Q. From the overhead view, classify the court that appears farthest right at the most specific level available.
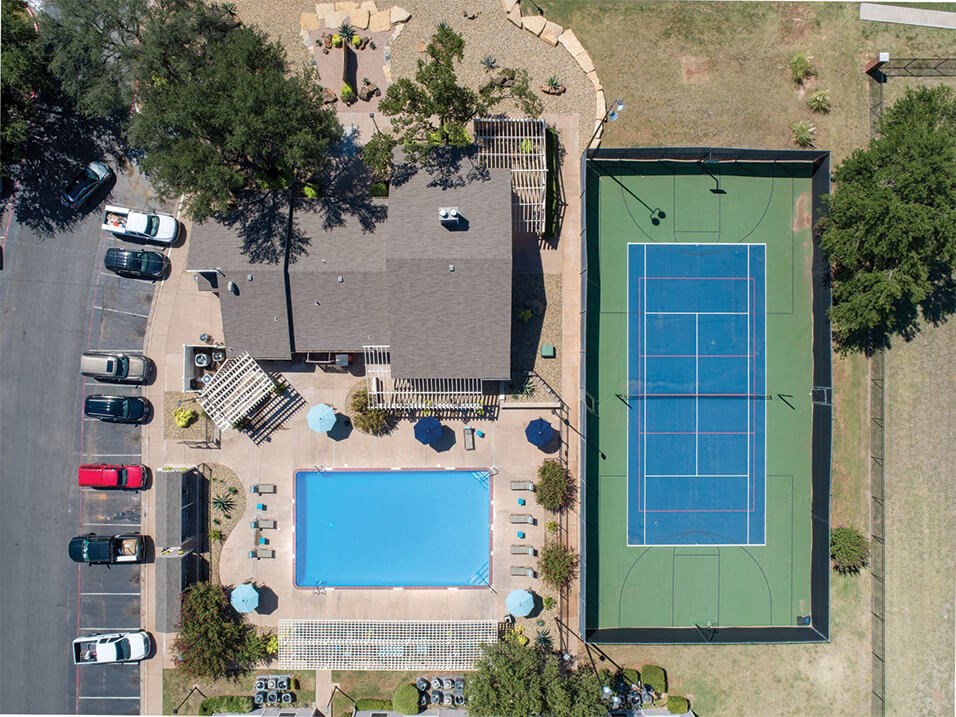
tennis court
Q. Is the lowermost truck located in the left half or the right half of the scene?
left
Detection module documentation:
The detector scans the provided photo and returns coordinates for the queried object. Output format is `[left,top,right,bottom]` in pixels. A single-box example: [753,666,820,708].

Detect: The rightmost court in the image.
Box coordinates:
[580,161,812,628]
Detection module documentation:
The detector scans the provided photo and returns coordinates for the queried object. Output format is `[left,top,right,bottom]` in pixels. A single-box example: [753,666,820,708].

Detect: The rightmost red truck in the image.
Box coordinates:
[74,462,148,493]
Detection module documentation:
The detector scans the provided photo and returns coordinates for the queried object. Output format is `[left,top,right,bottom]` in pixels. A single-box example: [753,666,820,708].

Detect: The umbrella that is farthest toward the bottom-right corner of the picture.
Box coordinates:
[504,586,535,618]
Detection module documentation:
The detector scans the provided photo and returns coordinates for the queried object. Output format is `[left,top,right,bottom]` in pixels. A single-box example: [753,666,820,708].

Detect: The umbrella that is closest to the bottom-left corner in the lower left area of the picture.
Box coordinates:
[231,583,260,612]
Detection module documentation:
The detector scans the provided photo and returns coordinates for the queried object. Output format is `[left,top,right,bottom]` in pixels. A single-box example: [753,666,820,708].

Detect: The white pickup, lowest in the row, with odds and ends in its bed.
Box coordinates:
[69,629,153,667]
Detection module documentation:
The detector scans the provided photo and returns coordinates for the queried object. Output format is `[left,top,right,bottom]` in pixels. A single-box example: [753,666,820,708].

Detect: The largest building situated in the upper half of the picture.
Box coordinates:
[186,148,513,381]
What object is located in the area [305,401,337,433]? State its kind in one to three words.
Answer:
umbrella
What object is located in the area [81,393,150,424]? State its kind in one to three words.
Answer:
car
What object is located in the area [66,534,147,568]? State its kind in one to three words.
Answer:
truck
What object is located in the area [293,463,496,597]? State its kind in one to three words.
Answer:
swimming pool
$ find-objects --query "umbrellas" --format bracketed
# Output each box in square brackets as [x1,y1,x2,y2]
[414,415,443,445]
[305,401,337,433]
[526,417,556,448]
[504,586,535,618]
[231,583,260,612]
